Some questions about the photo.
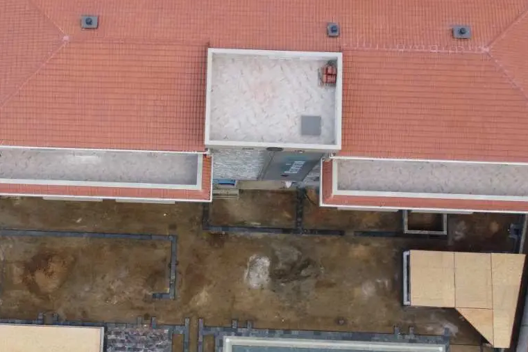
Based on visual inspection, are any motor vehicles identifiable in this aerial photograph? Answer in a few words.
No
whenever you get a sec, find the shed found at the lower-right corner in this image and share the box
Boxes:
[396,251,526,349]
